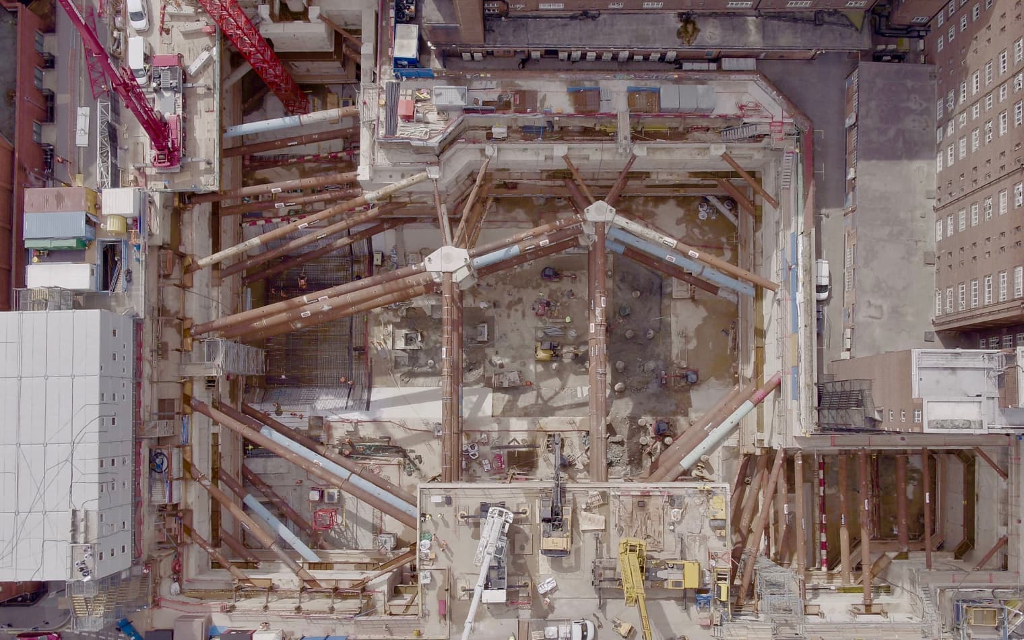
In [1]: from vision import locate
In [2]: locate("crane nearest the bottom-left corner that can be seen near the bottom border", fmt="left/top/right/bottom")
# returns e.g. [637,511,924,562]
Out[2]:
[460,505,527,640]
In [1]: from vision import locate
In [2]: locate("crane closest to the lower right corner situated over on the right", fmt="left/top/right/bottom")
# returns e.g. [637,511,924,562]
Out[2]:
[596,537,705,640]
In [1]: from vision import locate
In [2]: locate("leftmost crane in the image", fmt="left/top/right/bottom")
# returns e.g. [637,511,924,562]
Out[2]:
[53,0,204,174]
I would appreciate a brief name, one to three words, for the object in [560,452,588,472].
work vehicle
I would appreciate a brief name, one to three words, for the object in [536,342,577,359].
work vehicle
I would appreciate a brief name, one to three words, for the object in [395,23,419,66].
building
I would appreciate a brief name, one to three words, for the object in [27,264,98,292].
building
